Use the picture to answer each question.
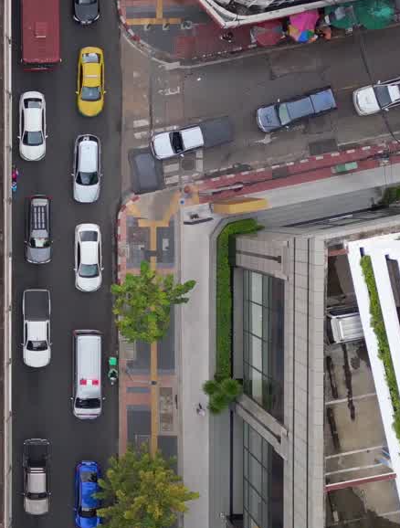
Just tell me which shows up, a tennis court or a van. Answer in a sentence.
Visible in the photo is a van.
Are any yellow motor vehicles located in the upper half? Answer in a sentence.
Yes, the scene does show a yellow motor vehicle in the upper half.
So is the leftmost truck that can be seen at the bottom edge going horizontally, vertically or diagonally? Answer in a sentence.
Seen from above, the leftmost truck that can be seen at the bottom edge lies vertically.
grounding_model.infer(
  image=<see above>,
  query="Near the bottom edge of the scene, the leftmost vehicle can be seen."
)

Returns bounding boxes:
[21,437,53,512]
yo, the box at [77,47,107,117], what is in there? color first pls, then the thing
yellow car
